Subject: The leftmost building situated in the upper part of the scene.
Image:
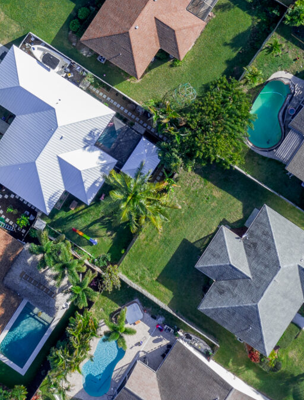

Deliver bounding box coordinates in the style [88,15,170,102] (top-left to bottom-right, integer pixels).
[0,45,118,215]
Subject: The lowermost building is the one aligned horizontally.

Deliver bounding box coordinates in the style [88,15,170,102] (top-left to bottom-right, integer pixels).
[113,335,256,400]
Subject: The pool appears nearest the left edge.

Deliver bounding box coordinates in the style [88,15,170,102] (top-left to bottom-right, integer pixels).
[0,297,65,380]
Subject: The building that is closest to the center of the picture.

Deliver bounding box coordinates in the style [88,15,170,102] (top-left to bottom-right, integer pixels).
[121,136,160,184]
